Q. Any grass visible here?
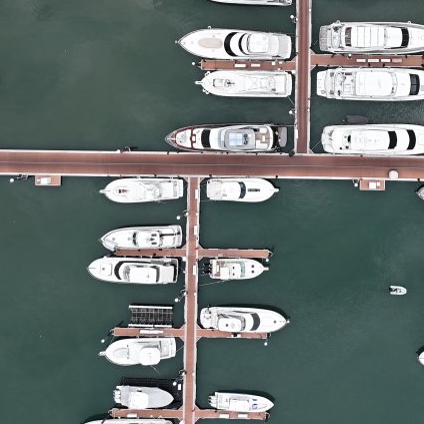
No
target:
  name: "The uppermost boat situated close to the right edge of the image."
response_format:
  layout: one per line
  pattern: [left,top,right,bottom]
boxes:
[319,23,424,57]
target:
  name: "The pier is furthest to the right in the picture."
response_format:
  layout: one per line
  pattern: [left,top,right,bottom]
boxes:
[311,47,424,76]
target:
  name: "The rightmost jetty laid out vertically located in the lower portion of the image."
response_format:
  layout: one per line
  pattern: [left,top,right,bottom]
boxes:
[182,178,200,424]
